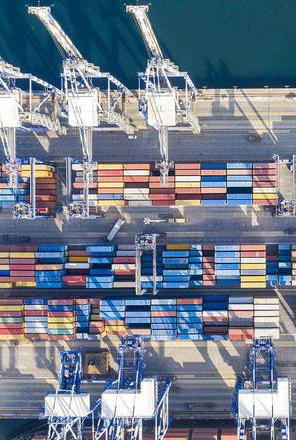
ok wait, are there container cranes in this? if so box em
[271,153,296,218]
[233,335,291,440]
[0,52,74,190]
[23,3,141,189]
[121,1,206,189]
[12,155,53,220]
[101,336,177,440]
[65,155,103,219]
[43,349,117,440]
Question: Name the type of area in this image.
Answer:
port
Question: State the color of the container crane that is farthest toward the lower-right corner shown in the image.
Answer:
white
